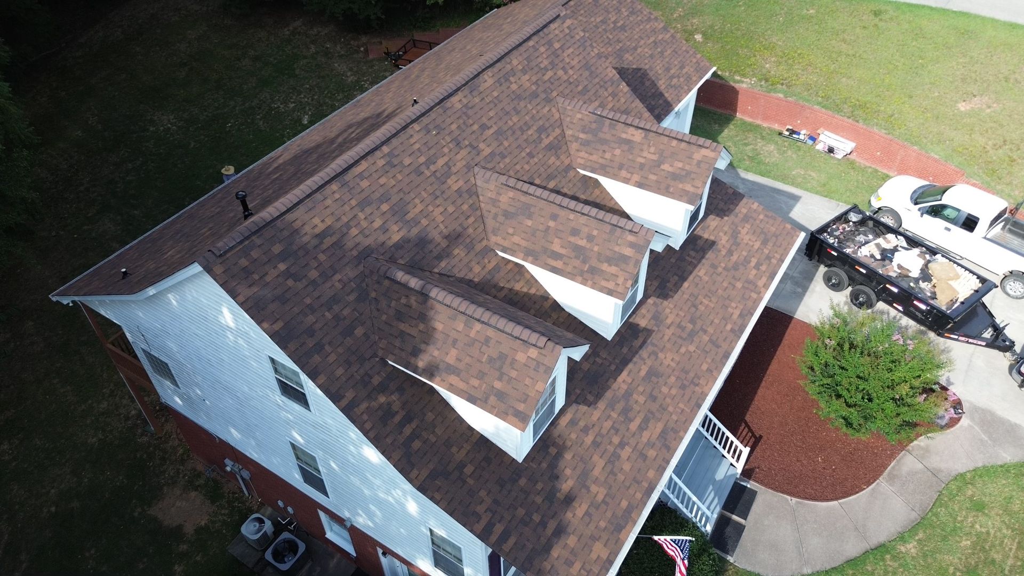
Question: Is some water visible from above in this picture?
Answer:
No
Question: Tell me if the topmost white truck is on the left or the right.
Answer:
right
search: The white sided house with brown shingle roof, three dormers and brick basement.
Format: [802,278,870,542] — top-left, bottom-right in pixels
[47,0,806,576]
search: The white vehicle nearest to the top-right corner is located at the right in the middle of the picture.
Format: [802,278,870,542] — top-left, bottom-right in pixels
[863,170,1024,299]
